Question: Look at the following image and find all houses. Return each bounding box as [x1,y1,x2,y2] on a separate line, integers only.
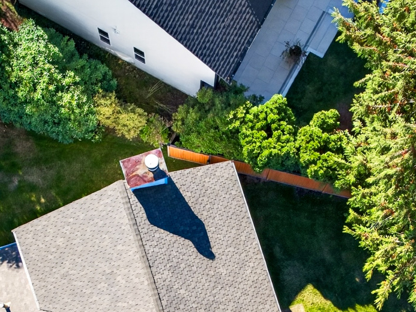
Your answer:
[0,146,286,312]
[16,0,273,108]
